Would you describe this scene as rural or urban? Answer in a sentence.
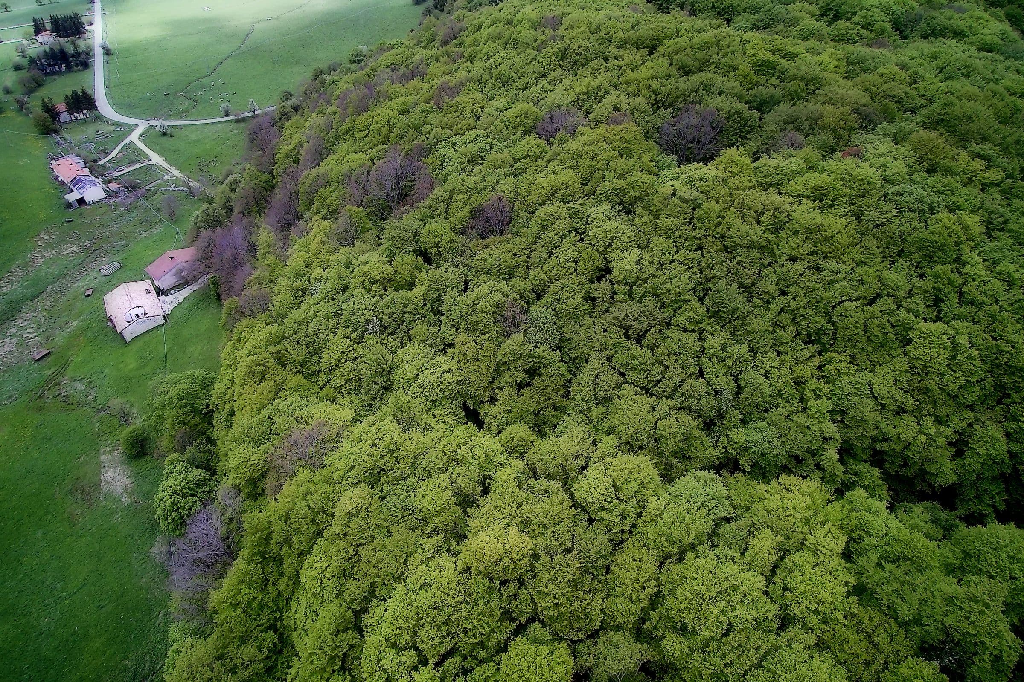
The land in this view is best described as rural.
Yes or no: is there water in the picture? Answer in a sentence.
No, there's no water in this view.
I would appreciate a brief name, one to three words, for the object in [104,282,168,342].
barn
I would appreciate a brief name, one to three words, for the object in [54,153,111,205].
house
